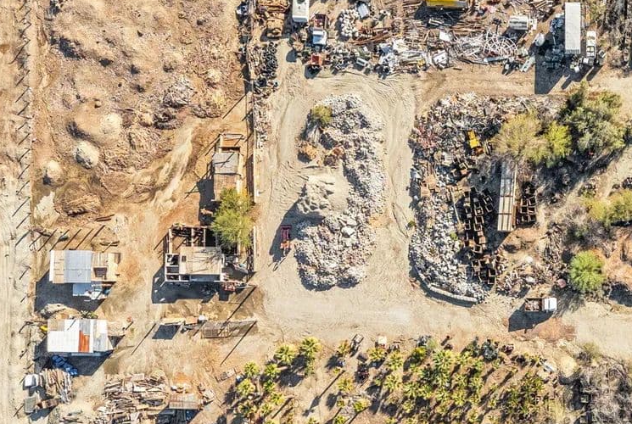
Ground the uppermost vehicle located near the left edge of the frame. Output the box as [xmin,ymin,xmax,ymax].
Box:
[24,365,45,388]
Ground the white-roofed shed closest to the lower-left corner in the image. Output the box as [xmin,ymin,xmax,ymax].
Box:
[48,319,122,356]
